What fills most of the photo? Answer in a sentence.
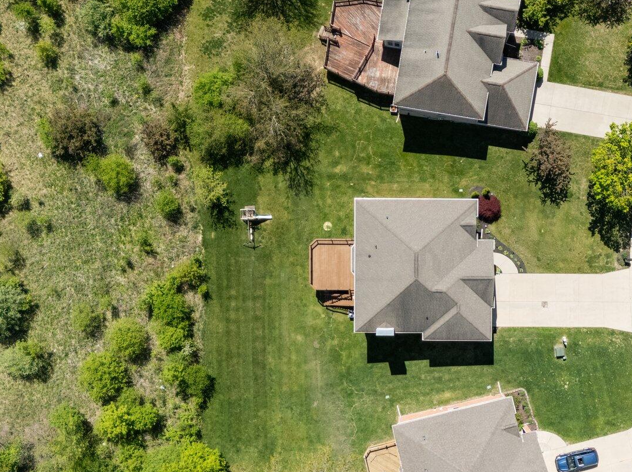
For the most part, this view shows grass.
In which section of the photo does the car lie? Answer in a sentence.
Look in the bottom right portion of the view to spot the car.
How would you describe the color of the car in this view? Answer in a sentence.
The car is blue.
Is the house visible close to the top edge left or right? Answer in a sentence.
The house visible close to the top edge sits on the right side.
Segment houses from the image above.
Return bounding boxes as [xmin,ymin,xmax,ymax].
[377,0,540,133]
[391,382,549,472]
[350,198,495,341]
